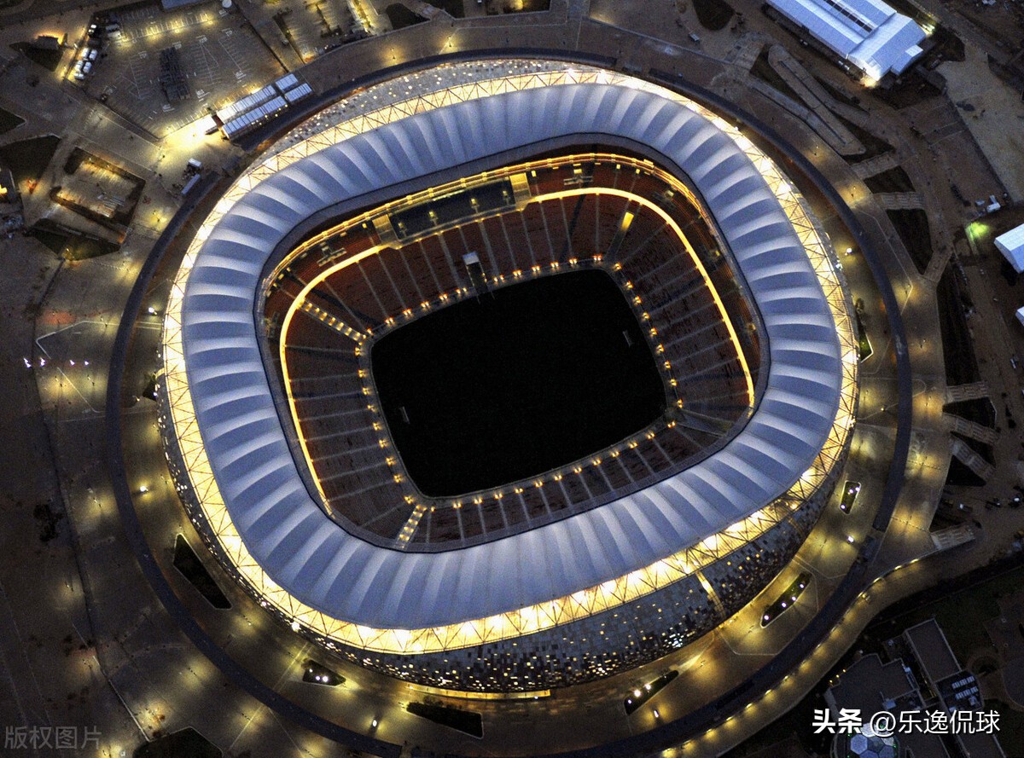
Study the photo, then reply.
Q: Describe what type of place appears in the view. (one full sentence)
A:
The picture captures a sports ground.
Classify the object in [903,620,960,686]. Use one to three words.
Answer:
building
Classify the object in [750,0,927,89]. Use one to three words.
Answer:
building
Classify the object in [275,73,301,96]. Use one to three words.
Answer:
tent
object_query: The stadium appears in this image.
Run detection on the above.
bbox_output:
[158,63,866,700]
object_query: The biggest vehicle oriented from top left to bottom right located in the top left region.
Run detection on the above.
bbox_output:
[186,154,202,167]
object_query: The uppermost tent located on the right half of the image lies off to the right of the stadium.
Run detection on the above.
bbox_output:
[990,223,1024,276]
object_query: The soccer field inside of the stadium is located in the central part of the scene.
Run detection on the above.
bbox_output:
[356,257,681,510]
